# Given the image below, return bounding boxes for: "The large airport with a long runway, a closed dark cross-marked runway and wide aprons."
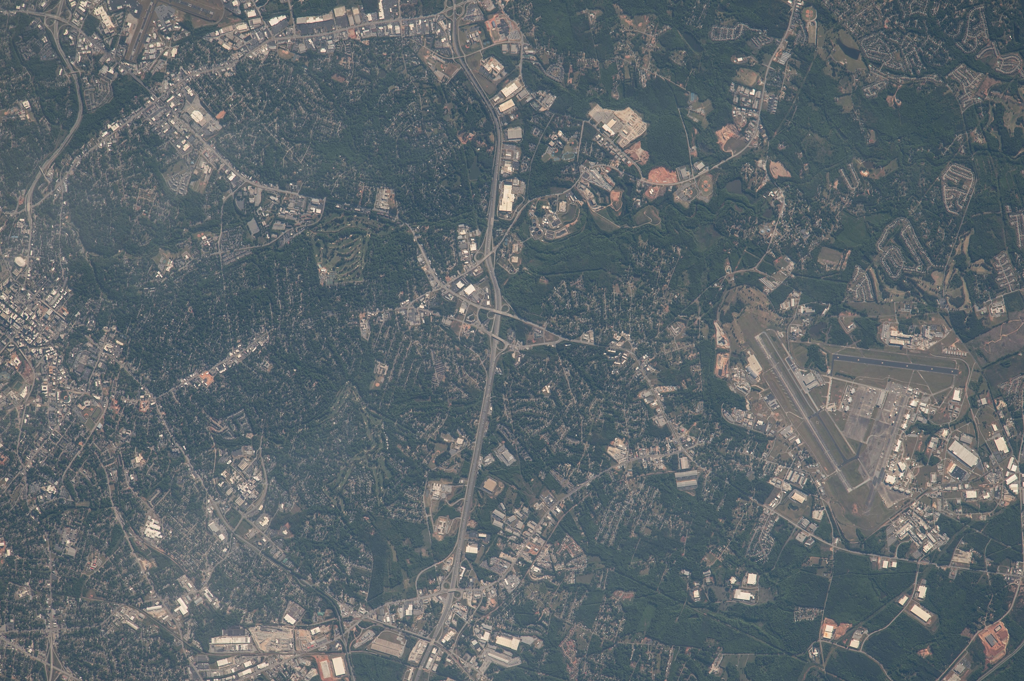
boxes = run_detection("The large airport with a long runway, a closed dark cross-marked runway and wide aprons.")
[724,287,968,542]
